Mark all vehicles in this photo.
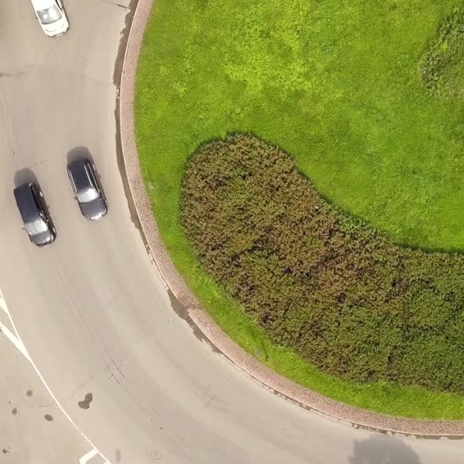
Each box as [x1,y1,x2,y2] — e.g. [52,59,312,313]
[13,182,57,248]
[29,0,69,39]
[70,160,109,222]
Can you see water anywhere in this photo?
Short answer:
No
